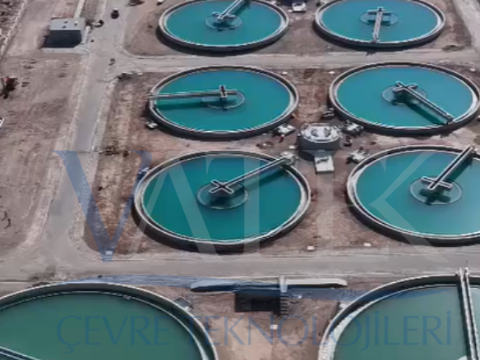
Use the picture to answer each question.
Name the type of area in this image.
industrial area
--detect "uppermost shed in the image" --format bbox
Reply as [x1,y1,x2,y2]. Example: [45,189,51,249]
[43,18,91,47]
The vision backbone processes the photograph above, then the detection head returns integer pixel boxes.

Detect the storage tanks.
[134,150,310,252]
[346,146,480,247]
[328,61,480,136]
[0,283,216,360]
[159,0,288,52]
[317,274,480,360]
[315,0,445,50]
[148,65,298,140]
